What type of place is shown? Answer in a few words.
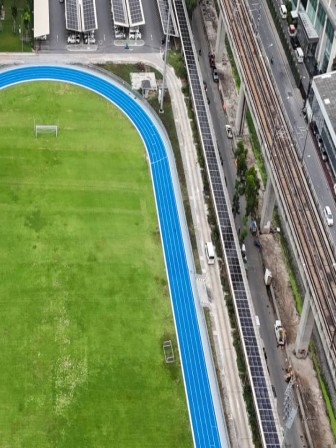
sports ground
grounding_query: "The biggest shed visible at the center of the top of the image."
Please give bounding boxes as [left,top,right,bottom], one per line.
[130,70,156,91]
